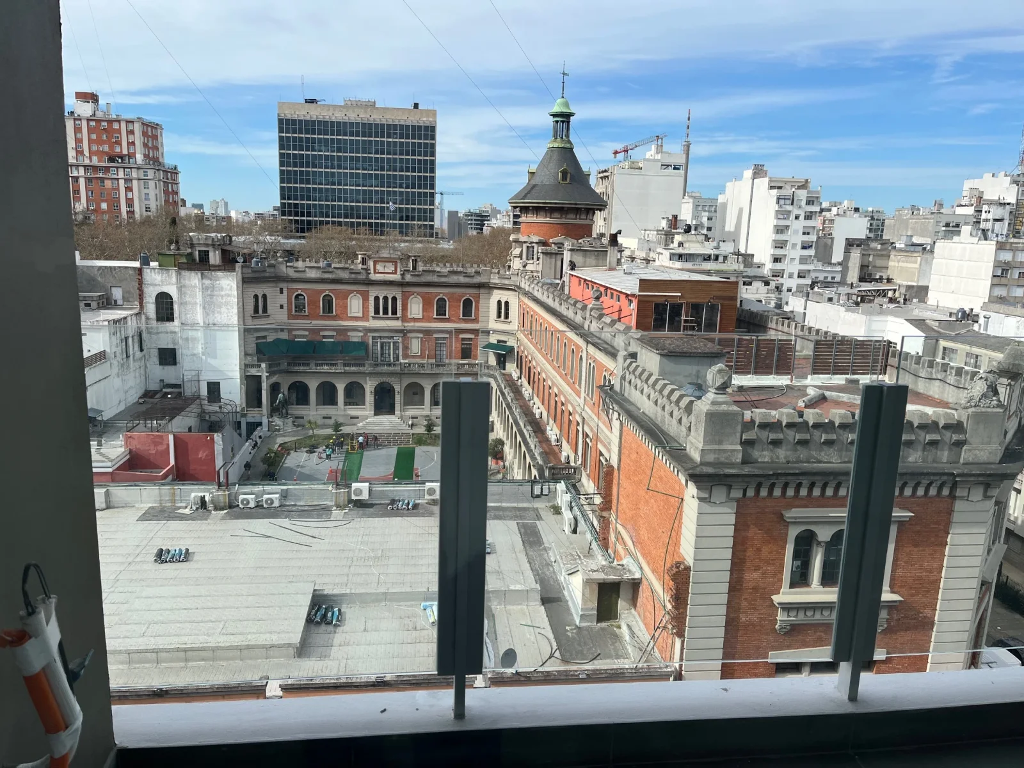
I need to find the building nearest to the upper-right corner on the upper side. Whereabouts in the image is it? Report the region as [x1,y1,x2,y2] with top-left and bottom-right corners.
[964,158,1024,200]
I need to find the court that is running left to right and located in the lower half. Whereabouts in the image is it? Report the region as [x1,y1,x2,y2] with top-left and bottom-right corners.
[280,445,440,485]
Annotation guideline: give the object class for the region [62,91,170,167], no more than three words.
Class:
building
